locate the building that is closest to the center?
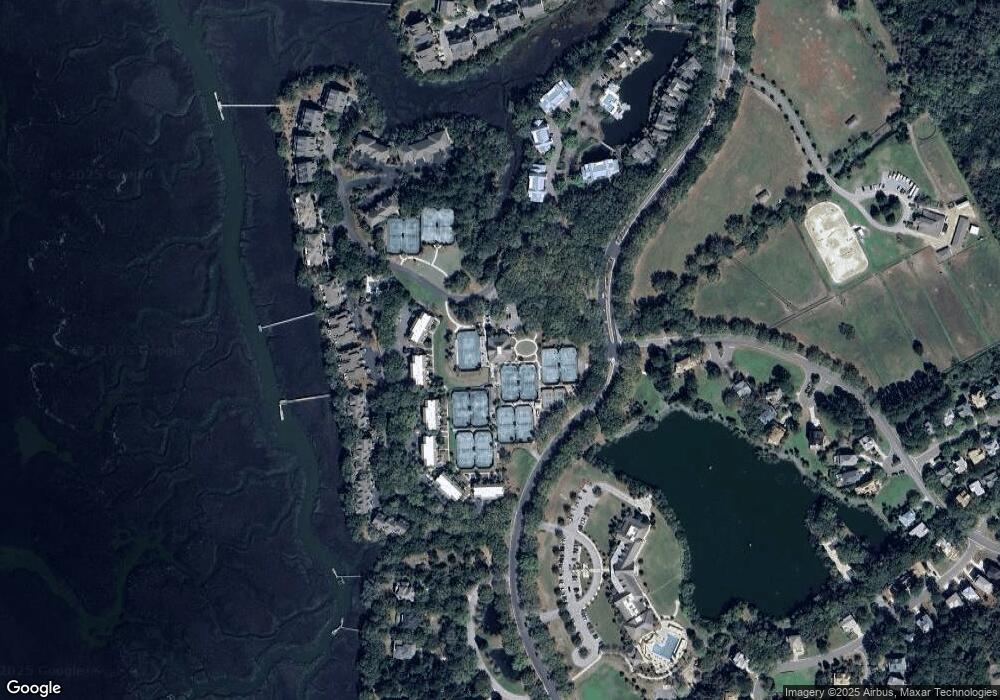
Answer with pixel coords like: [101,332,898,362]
[487,333,514,364]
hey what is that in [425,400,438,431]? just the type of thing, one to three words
house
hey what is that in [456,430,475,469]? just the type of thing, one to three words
tennis court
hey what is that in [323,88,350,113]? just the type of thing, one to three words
building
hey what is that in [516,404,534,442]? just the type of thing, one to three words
tennis court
